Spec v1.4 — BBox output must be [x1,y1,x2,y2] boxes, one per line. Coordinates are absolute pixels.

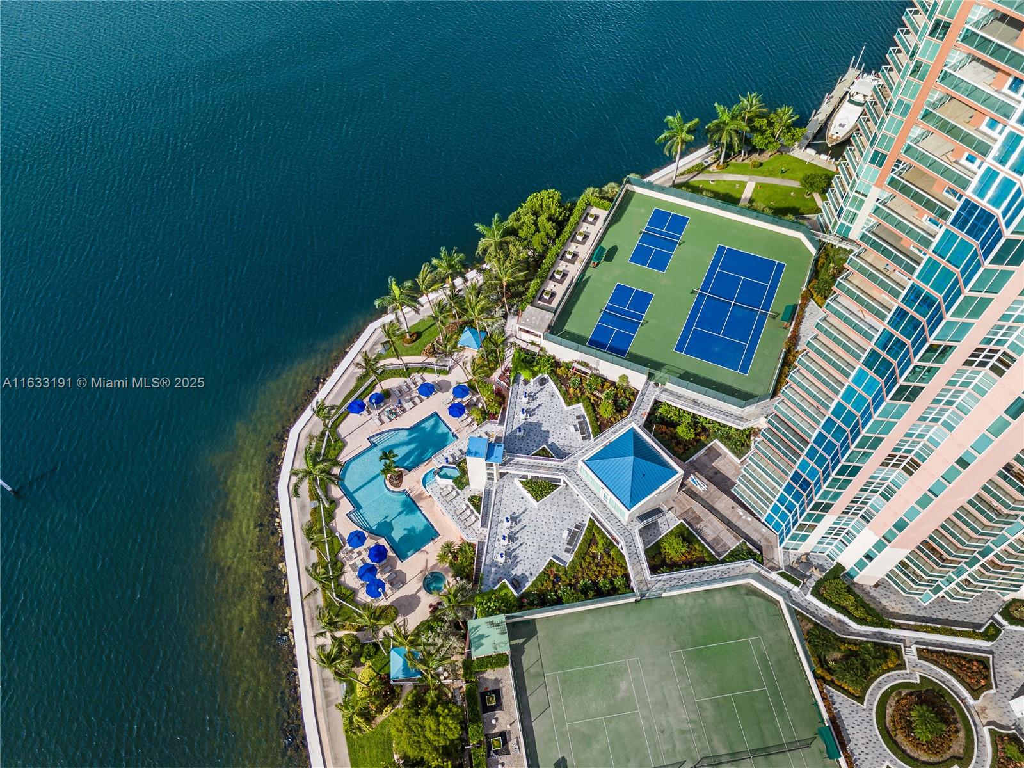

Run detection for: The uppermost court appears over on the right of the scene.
[543,193,812,400]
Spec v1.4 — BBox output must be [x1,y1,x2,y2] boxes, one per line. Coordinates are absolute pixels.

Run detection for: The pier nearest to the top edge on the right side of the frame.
[799,68,859,149]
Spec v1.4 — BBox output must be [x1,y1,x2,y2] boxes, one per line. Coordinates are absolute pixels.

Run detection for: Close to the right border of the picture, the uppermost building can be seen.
[731,0,1024,606]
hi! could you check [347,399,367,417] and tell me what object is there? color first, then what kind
blue umbrella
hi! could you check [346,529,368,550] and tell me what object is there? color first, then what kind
blue umbrella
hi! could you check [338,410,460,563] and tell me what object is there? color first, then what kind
blue swimming pool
